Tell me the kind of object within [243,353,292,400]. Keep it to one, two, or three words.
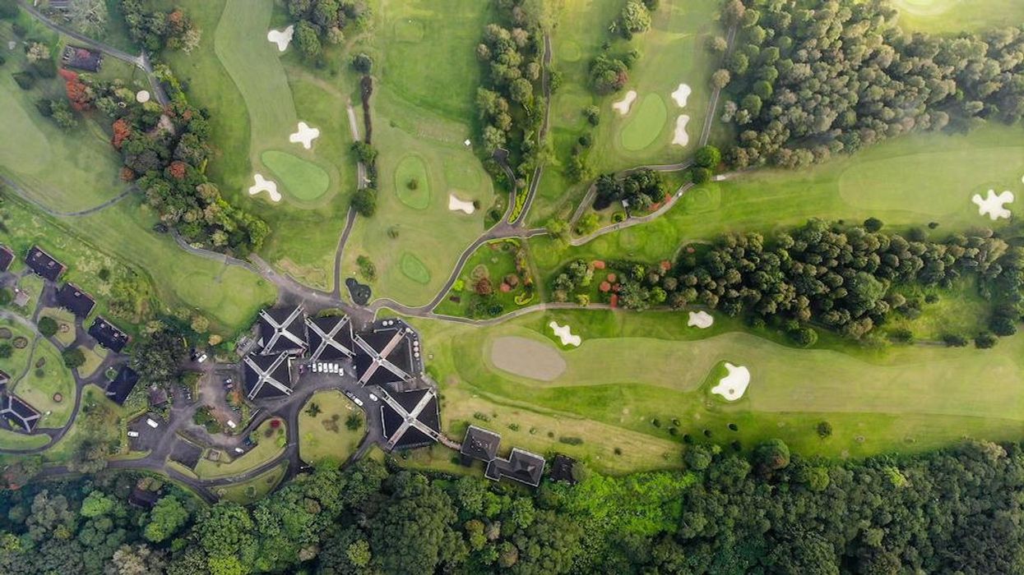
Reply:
building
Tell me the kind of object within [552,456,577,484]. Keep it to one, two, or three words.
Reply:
shed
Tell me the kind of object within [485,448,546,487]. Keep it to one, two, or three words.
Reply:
building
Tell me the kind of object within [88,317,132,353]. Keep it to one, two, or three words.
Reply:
house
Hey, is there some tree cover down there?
Yes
